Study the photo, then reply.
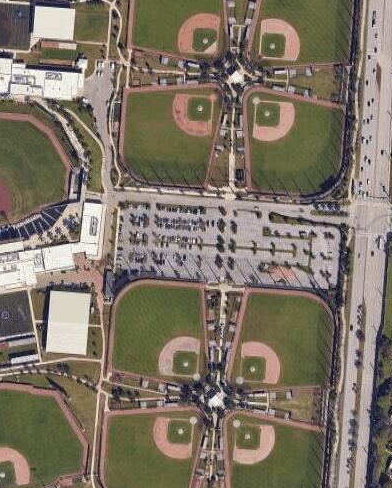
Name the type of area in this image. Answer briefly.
sports ground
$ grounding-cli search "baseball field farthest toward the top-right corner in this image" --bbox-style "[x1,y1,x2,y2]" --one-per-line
[247,0,354,67]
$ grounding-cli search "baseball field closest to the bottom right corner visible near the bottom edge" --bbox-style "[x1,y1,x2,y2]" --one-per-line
[223,411,326,488]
